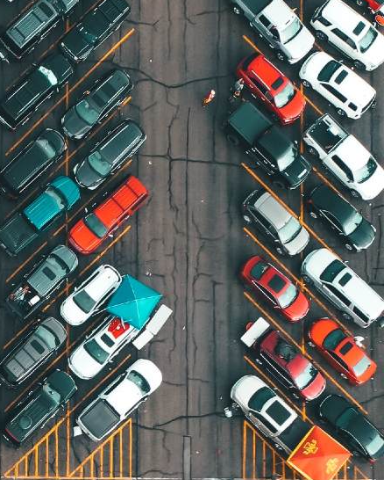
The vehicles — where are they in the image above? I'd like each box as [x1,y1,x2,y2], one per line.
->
[227,0,313,63]
[229,377,310,457]
[3,373,72,443]
[0,320,65,390]
[0,176,79,260]
[304,183,375,254]
[70,115,147,191]
[68,174,148,254]
[240,190,306,256]
[234,52,305,125]
[304,253,384,325]
[301,113,384,203]
[237,255,308,324]
[0,130,65,200]
[309,0,381,72]
[316,394,384,462]
[74,360,160,444]
[223,98,309,187]
[301,52,377,121]
[56,0,137,68]
[305,317,377,387]
[58,263,123,328]
[248,323,328,404]
[0,0,76,63]
[0,54,72,132]
[68,315,139,379]
[1,243,80,324]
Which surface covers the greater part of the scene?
paved ground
